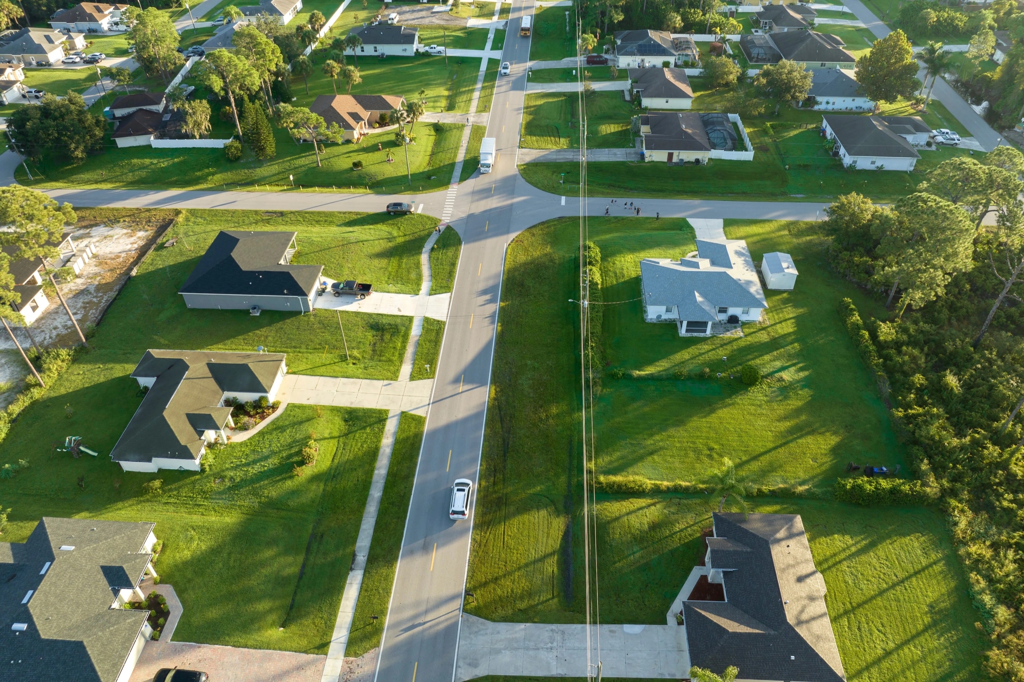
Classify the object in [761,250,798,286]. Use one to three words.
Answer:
shed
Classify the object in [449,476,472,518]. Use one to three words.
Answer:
car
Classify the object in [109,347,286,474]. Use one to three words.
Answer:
house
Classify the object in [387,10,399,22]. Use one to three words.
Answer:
vehicle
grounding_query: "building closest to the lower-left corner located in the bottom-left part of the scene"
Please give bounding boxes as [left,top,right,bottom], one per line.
[0,517,159,682]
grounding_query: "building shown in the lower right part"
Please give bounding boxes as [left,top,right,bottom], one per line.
[681,511,848,682]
